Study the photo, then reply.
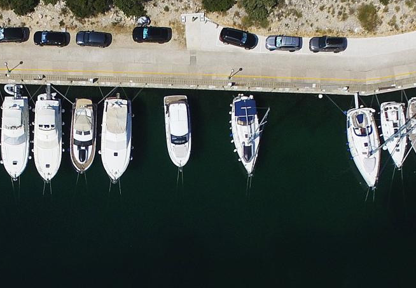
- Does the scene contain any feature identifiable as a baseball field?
No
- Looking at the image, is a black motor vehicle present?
Yes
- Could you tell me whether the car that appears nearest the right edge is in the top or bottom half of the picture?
top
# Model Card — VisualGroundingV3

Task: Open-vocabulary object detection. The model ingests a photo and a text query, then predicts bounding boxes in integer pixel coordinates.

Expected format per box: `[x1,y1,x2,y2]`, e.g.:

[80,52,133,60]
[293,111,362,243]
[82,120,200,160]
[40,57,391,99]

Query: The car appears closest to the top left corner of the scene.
[0,24,26,45]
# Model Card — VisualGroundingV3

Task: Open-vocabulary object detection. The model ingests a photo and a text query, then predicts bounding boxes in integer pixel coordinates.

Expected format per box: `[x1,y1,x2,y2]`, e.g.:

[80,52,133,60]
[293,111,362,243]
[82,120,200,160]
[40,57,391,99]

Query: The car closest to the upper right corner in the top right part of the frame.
[309,35,347,55]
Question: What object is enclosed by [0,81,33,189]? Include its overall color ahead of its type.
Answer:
white boat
